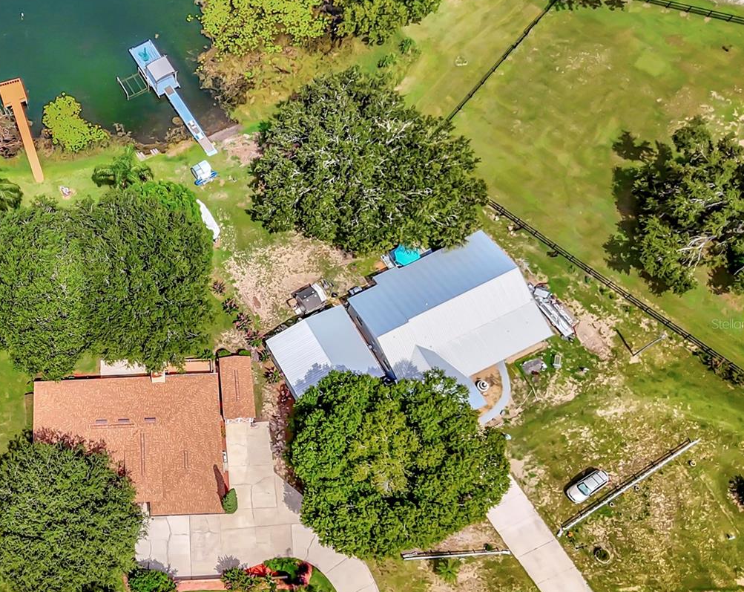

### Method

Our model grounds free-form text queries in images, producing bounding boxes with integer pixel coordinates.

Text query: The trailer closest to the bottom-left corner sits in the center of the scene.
[290,283,327,317]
